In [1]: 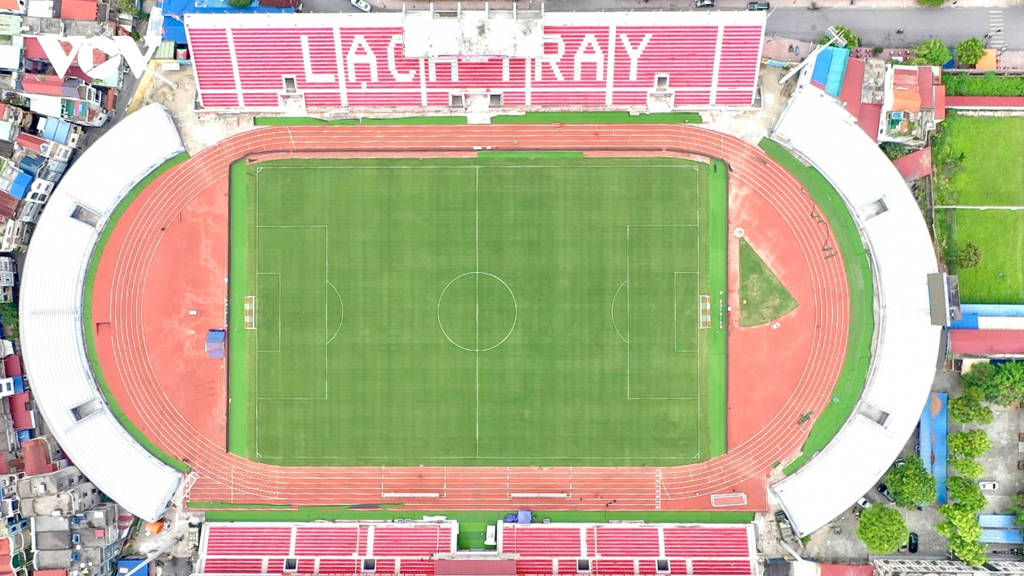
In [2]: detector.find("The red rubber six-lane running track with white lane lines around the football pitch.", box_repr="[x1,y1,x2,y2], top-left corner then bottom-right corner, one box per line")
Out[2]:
[92,124,851,510]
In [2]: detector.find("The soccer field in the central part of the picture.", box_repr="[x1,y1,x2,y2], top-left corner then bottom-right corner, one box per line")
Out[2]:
[248,158,710,466]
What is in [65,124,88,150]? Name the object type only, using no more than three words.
house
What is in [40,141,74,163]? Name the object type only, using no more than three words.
house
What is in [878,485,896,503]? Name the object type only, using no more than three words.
car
